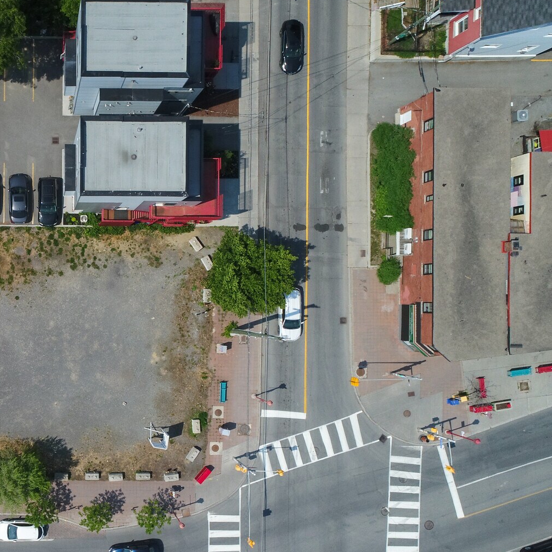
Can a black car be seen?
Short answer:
Yes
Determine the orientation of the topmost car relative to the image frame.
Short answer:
vertically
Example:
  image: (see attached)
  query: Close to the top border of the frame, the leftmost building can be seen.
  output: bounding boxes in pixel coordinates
[63,0,224,115]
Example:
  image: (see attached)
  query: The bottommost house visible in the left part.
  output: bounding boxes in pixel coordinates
[63,115,223,230]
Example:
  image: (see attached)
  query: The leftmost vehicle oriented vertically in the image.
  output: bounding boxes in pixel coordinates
[7,173,32,224]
